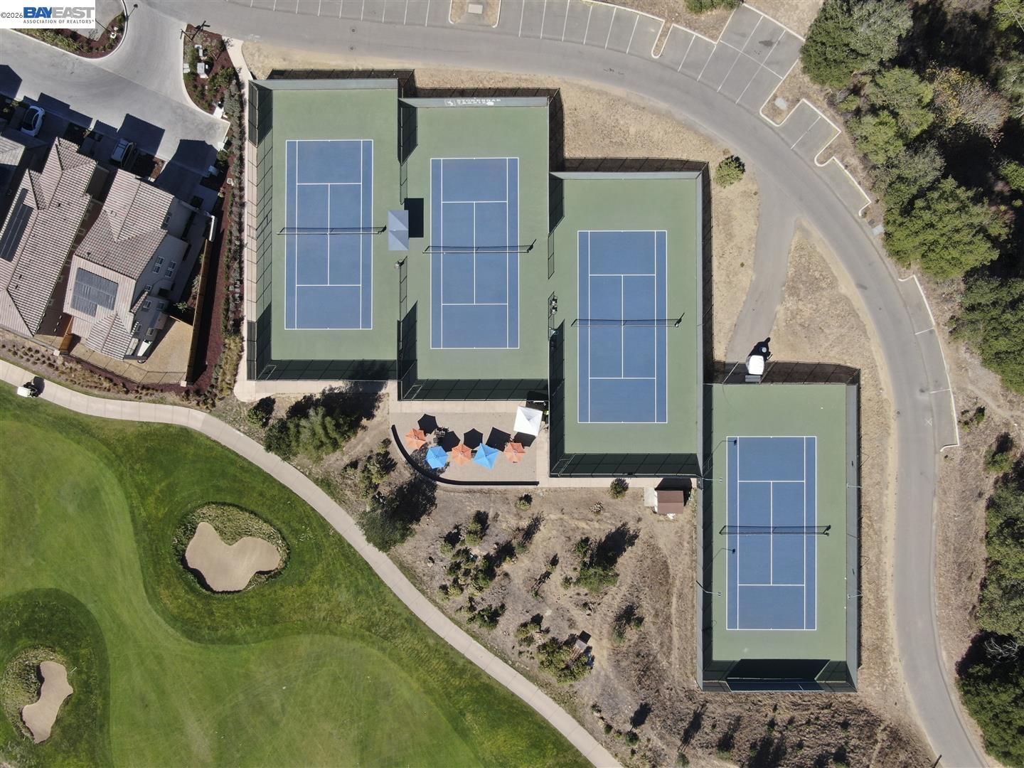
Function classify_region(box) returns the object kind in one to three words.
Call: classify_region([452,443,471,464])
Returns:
umbrella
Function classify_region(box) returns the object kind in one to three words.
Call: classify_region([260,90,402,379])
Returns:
tennis court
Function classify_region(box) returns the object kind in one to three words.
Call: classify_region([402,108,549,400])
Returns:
tennis court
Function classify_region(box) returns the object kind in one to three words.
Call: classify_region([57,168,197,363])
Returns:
house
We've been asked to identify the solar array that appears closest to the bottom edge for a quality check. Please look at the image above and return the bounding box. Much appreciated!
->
[68,269,116,317]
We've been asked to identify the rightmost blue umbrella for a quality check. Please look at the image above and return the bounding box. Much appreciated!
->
[474,444,499,469]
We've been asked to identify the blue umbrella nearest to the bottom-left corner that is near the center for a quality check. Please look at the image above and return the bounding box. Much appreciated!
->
[425,446,448,468]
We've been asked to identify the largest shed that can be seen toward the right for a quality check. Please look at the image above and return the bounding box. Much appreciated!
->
[654,489,685,514]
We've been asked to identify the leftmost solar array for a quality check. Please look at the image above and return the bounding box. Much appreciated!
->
[0,193,32,264]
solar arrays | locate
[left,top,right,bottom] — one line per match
[0,193,32,264]
[68,269,116,317]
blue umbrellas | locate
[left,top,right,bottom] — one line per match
[474,444,499,469]
[425,446,448,468]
